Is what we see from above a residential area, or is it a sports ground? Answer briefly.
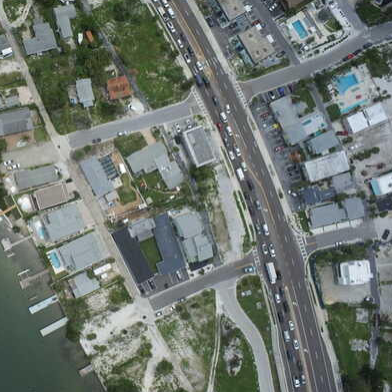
residential area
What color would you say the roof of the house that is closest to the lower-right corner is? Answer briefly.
white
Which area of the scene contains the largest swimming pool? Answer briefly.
top right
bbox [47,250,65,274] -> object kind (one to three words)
swimming pool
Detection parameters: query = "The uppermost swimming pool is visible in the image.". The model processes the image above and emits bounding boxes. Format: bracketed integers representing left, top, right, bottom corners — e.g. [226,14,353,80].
[291,19,309,39]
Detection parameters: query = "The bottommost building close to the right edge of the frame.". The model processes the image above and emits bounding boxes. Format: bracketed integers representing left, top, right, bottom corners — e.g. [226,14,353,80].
[331,259,374,286]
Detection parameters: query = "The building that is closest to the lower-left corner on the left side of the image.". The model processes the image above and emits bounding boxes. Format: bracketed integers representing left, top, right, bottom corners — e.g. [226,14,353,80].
[69,272,100,297]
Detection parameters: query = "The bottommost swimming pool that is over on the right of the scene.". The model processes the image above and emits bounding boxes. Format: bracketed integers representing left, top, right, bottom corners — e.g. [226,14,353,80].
[340,99,368,114]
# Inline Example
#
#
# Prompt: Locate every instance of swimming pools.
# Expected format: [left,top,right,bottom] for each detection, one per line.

[330,65,378,114]
[291,19,309,39]
[32,218,49,244]
[340,99,368,114]
[47,250,65,274]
